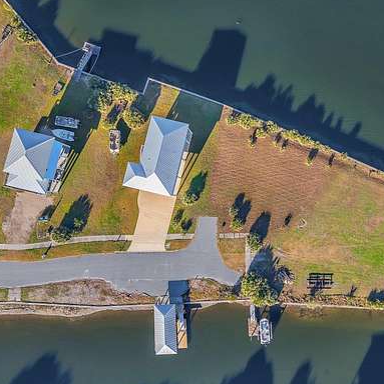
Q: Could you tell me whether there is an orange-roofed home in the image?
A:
No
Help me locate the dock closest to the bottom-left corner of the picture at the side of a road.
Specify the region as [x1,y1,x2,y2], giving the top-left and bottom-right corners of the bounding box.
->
[157,296,189,350]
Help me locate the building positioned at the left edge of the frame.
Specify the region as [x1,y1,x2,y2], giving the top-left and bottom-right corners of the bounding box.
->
[4,128,69,194]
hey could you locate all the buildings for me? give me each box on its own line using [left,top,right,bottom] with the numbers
[4,128,69,194]
[155,304,179,355]
[122,115,199,195]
